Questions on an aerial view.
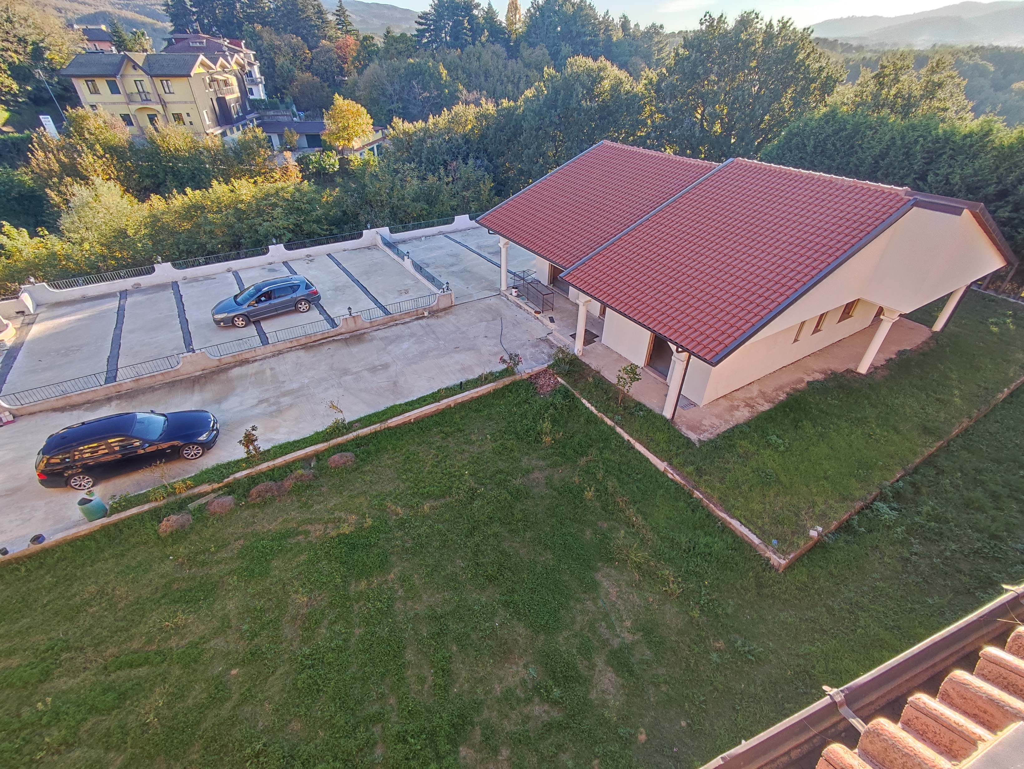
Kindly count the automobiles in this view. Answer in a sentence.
Looking from above, you can make out 2 automobiles.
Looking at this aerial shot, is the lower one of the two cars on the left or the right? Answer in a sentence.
The lower one of the two cars appears in the left half of the scene.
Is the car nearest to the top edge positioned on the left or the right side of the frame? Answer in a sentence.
You can find the car nearest to the top edge on the left side of the picture.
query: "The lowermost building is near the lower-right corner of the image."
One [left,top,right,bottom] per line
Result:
[684,579,1024,769]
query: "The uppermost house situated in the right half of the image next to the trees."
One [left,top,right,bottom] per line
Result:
[470,136,1024,449]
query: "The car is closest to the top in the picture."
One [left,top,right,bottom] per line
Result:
[209,277,327,336]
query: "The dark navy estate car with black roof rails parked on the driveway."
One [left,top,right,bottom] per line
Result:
[28,407,225,497]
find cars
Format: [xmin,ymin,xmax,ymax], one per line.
[209,277,327,336]
[28,407,225,497]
